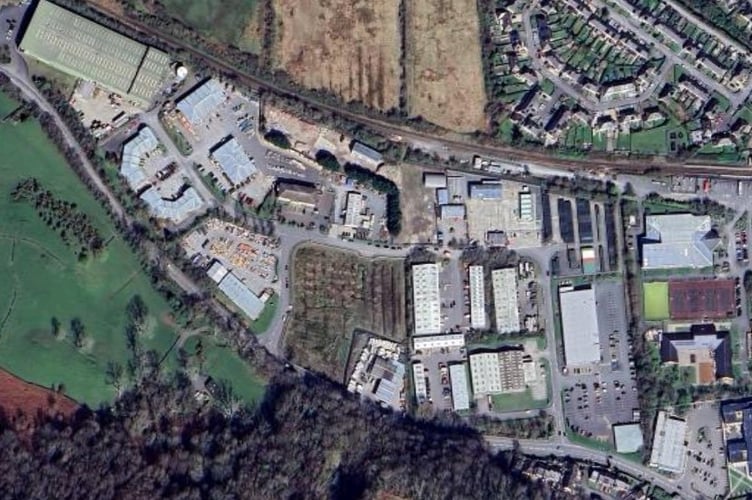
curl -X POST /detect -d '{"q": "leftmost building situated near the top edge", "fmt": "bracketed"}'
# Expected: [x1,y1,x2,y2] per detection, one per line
[19,0,171,104]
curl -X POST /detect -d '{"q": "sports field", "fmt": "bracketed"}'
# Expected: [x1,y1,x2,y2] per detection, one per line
[645,283,670,319]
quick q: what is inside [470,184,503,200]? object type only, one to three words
building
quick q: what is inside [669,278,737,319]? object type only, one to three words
sports court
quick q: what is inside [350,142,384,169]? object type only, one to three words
barn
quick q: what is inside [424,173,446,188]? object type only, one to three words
shed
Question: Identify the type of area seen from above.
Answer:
residential area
